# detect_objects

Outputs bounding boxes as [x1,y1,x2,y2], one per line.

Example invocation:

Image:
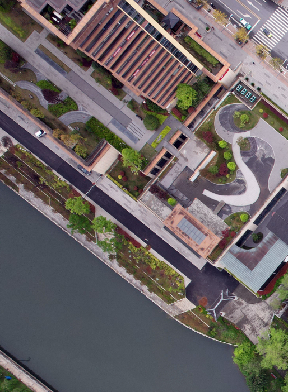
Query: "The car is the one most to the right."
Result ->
[260,25,274,39]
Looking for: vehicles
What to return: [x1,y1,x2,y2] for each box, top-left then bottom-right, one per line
[238,16,252,29]
[260,25,274,39]
[76,161,90,173]
[32,127,46,138]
